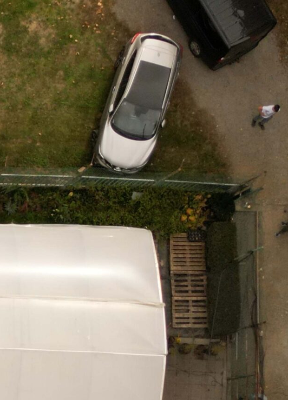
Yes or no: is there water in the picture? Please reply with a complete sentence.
No, water can't be seen anywhere here.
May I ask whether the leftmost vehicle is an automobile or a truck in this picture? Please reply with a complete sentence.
I'd say the leftmost vehicle is an automobile.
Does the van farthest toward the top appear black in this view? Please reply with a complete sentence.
Yes, the van farthest toward the top appears black.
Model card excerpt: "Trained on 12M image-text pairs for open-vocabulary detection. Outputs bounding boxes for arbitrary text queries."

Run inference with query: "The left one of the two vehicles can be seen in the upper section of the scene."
[81,31,180,174]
